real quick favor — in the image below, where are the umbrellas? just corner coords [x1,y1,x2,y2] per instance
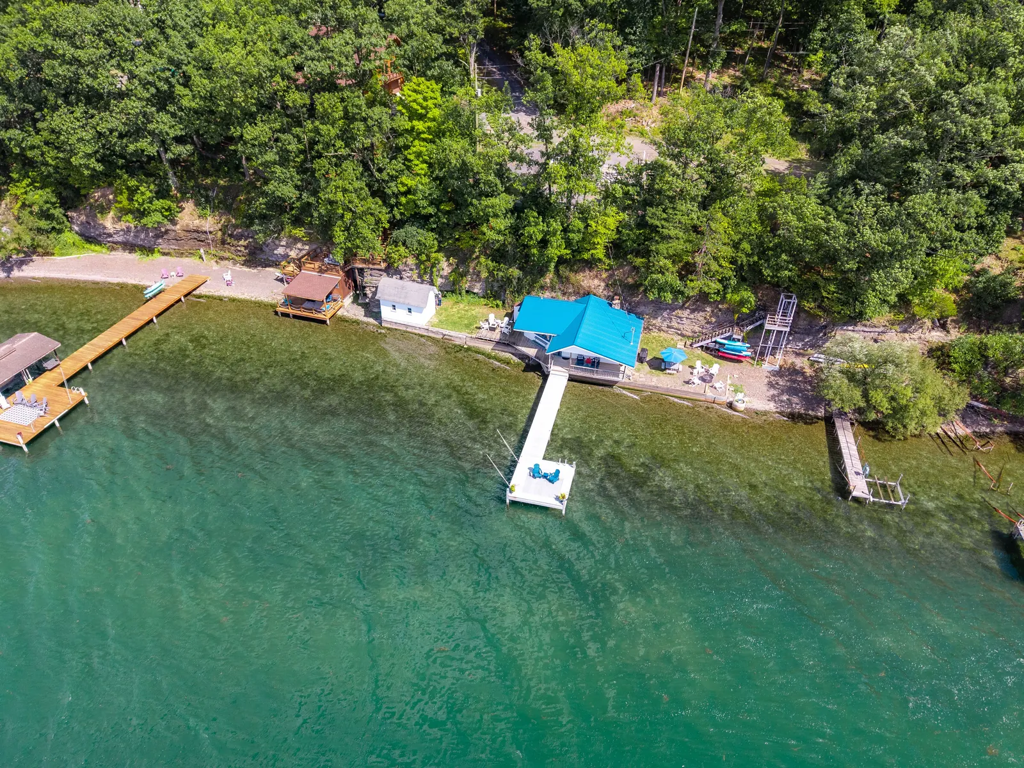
[660,341,691,360]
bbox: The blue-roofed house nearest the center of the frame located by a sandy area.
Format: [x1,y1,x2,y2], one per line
[511,290,647,390]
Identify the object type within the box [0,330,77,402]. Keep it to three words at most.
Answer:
building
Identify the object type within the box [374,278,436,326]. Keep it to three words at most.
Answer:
shed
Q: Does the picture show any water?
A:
Yes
